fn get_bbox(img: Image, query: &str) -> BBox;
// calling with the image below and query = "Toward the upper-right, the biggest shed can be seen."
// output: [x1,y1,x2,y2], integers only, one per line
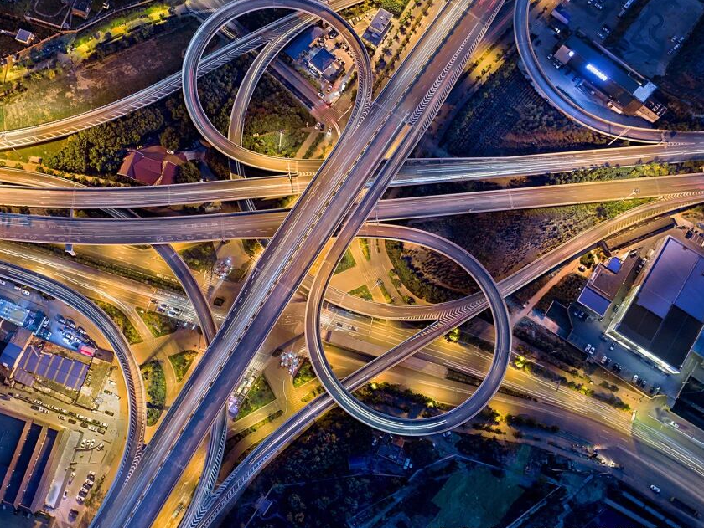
[565,36,644,122]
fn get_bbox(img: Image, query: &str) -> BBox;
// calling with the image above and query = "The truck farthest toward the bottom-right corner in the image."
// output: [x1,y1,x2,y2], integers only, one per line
[670,497,704,520]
